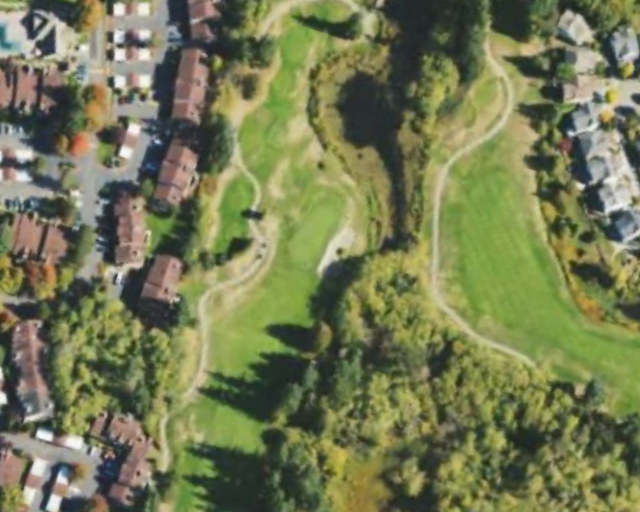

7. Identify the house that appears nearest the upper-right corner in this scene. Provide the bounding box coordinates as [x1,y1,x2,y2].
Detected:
[612,25,640,64]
